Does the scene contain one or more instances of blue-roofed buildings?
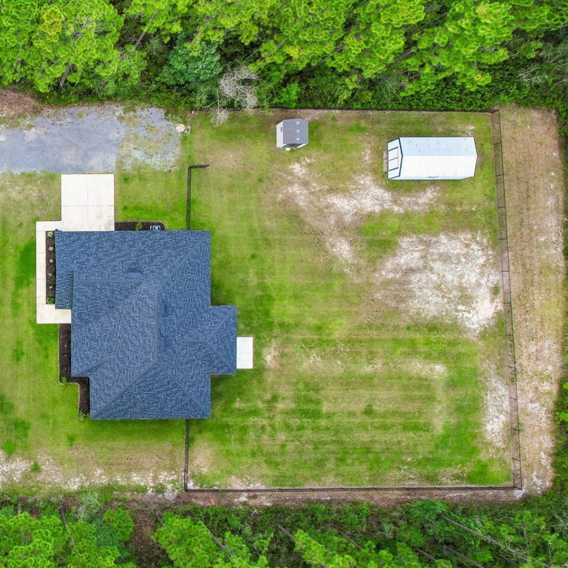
Yes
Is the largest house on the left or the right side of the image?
left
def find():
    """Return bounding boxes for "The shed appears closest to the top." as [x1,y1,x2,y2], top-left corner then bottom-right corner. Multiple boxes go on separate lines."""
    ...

[277,118,309,148]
